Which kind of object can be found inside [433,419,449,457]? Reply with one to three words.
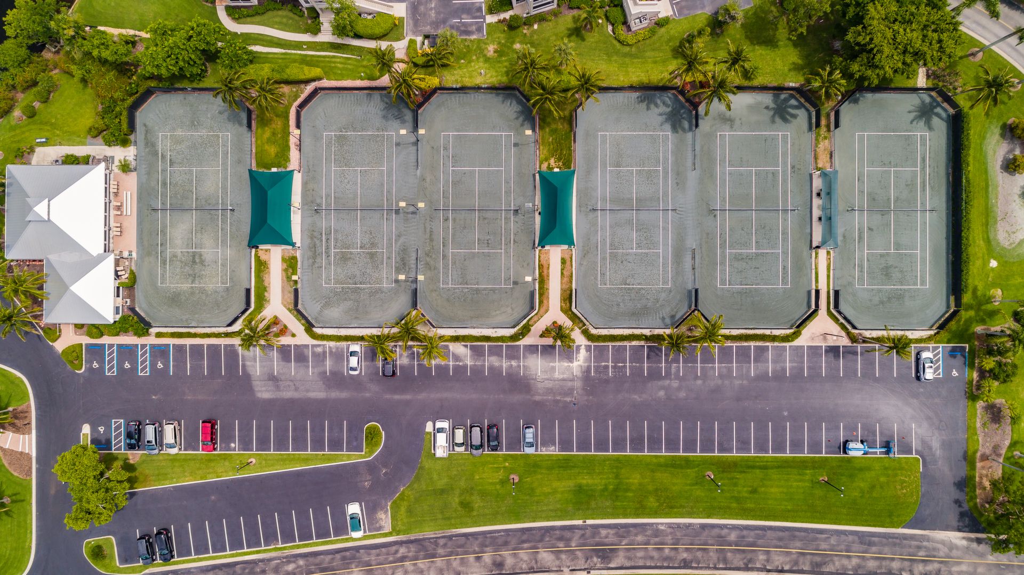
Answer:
vehicle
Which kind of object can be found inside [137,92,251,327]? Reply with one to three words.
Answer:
tennis court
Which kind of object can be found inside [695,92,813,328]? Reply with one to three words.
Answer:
tennis court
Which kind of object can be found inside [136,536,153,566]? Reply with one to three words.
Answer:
car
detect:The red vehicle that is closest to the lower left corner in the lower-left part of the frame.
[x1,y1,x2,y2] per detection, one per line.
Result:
[200,421,217,452]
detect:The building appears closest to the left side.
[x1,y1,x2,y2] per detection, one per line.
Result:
[6,162,130,324]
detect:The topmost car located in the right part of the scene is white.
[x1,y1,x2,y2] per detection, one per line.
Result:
[919,351,937,382]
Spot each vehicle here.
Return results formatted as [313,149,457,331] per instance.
[381,347,396,378]
[486,424,500,452]
[136,536,153,566]
[125,421,141,450]
[919,351,937,382]
[433,419,449,457]
[346,504,363,539]
[522,424,536,454]
[144,422,161,455]
[346,344,360,376]
[164,421,180,453]
[468,424,483,457]
[153,530,172,563]
[452,427,466,452]
[200,421,217,452]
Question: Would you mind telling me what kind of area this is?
sports ground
